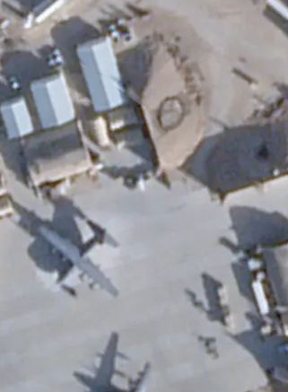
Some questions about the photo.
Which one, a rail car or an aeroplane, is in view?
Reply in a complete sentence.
The image shows an aeroplane.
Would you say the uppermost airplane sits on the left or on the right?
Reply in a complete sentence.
The uppermost airplane is on the left side of the image.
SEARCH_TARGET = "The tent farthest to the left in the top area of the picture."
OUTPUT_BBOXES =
[93,115,113,147]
